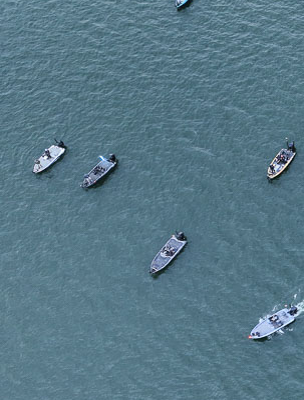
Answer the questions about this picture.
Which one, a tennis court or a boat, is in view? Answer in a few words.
boat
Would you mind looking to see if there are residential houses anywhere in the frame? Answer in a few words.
No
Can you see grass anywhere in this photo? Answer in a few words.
No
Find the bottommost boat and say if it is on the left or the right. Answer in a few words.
right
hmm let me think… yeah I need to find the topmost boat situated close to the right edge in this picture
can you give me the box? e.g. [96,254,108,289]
[267,139,296,180]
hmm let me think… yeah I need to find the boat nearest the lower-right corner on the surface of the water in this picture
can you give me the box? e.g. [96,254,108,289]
[251,305,296,339]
